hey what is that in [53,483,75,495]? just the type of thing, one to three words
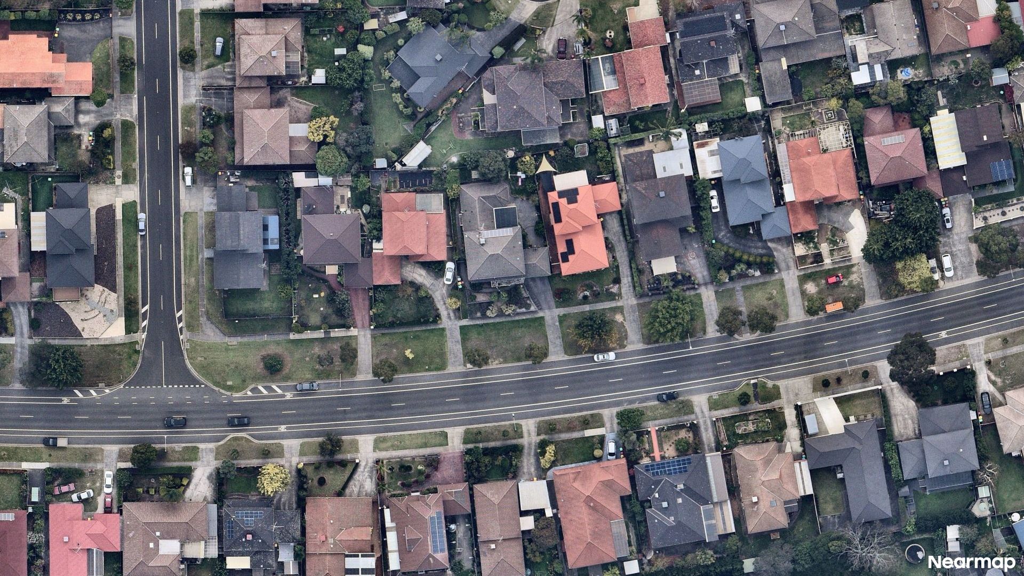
vehicle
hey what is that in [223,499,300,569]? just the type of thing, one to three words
house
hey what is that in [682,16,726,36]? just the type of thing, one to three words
solar panel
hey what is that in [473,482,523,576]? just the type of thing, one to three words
house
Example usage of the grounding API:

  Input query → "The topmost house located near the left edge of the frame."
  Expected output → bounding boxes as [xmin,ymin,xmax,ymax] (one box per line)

[0,34,91,96]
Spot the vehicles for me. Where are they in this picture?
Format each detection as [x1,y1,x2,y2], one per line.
[928,258,939,280]
[53,483,75,495]
[296,381,318,391]
[164,417,186,427]
[656,391,679,402]
[103,494,113,514]
[942,254,953,277]
[103,471,113,493]
[826,274,843,284]
[214,37,223,56]
[444,262,455,284]
[71,489,94,502]
[557,37,567,60]
[709,189,720,212]
[593,351,616,362]
[183,167,192,187]
[607,441,616,459]
[942,207,952,228]
[228,417,250,426]
[981,392,992,413]
[44,437,68,447]
[137,213,147,235]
